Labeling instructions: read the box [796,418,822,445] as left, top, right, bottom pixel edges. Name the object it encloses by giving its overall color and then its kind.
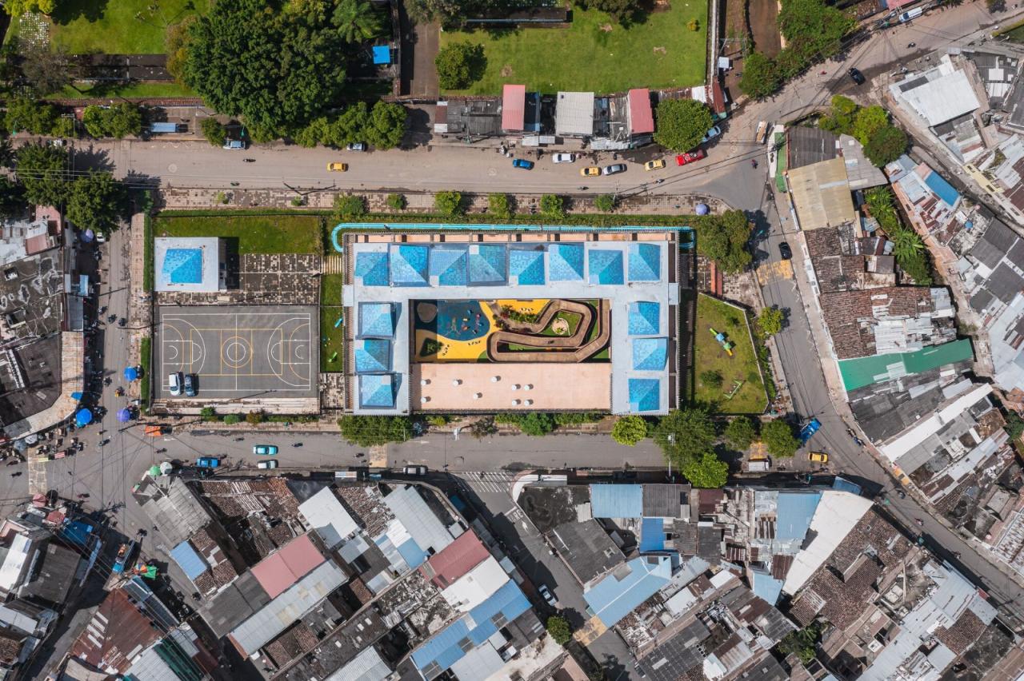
blue truck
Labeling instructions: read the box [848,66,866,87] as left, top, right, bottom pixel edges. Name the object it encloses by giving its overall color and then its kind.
black car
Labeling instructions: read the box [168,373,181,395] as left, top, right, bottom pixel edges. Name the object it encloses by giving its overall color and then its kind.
white vehicle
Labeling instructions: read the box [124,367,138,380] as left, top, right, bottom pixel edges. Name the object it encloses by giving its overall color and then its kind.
blue umbrella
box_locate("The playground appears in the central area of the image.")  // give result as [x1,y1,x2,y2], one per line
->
[413,301,549,364]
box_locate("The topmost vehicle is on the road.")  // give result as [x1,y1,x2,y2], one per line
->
[897,5,924,23]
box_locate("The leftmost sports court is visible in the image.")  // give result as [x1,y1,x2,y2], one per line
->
[153,305,318,397]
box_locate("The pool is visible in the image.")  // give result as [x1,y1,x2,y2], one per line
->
[413,301,489,340]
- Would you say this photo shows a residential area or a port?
residential area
